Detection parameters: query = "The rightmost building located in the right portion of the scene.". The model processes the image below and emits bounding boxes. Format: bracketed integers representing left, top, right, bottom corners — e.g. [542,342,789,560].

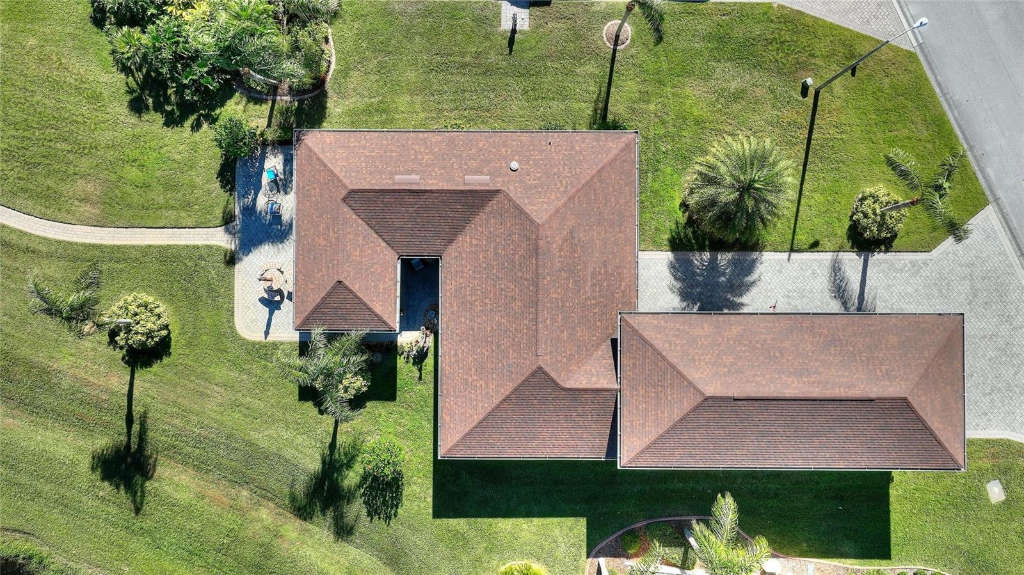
[617,311,967,472]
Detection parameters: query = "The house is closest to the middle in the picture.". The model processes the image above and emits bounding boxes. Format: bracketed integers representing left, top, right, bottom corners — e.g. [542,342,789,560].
[293,129,638,460]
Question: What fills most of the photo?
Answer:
grass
